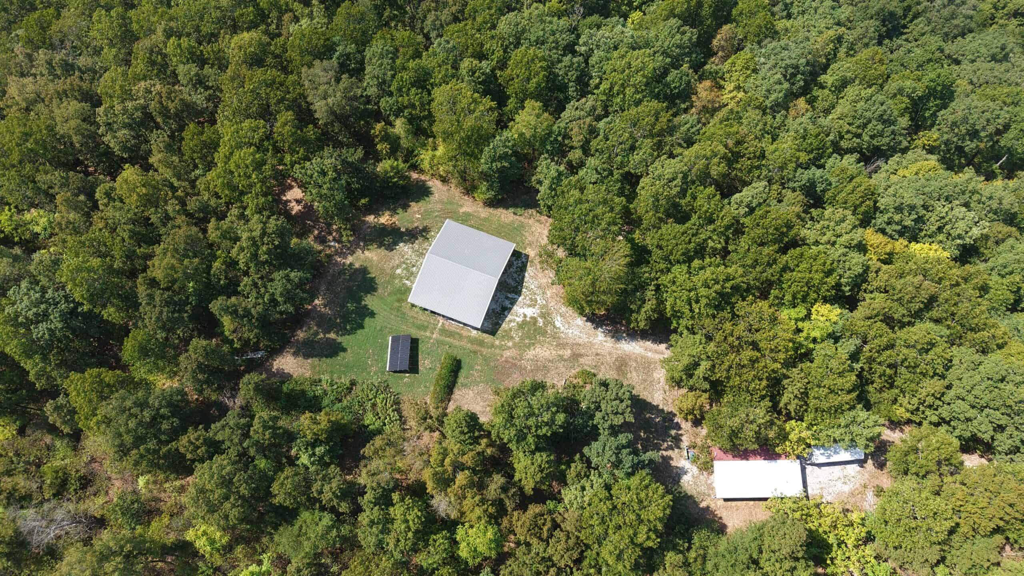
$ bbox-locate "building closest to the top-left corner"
[407,219,517,332]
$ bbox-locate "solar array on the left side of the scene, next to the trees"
[387,333,409,371]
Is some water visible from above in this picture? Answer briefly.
No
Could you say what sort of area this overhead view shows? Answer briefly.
forest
